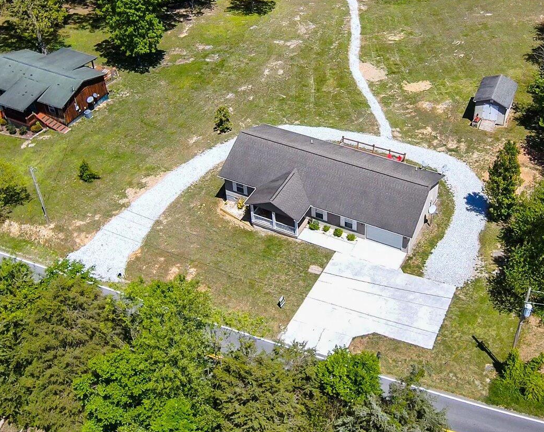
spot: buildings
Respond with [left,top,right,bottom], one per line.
[473,77,518,134]
[217,124,444,252]
[0,49,108,132]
